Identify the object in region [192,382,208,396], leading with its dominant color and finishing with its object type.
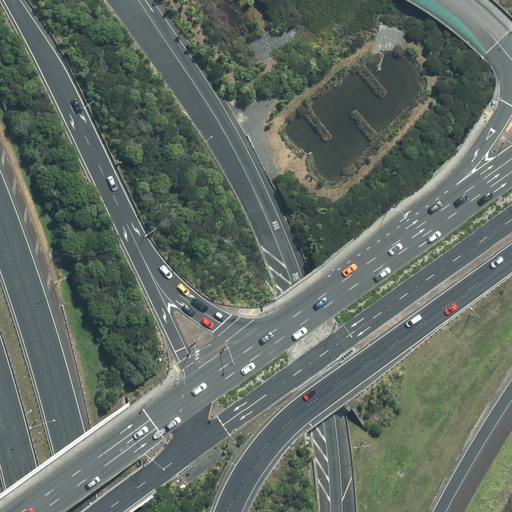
white vehicle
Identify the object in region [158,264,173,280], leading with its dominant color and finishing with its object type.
white car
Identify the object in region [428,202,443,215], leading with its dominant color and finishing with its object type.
gray vehicle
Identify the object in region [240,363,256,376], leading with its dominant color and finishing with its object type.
white vehicle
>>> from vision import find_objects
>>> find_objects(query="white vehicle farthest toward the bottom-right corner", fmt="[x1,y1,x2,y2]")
[406,314,424,328]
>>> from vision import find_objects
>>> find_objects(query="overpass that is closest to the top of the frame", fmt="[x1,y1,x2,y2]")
[402,0,512,60]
